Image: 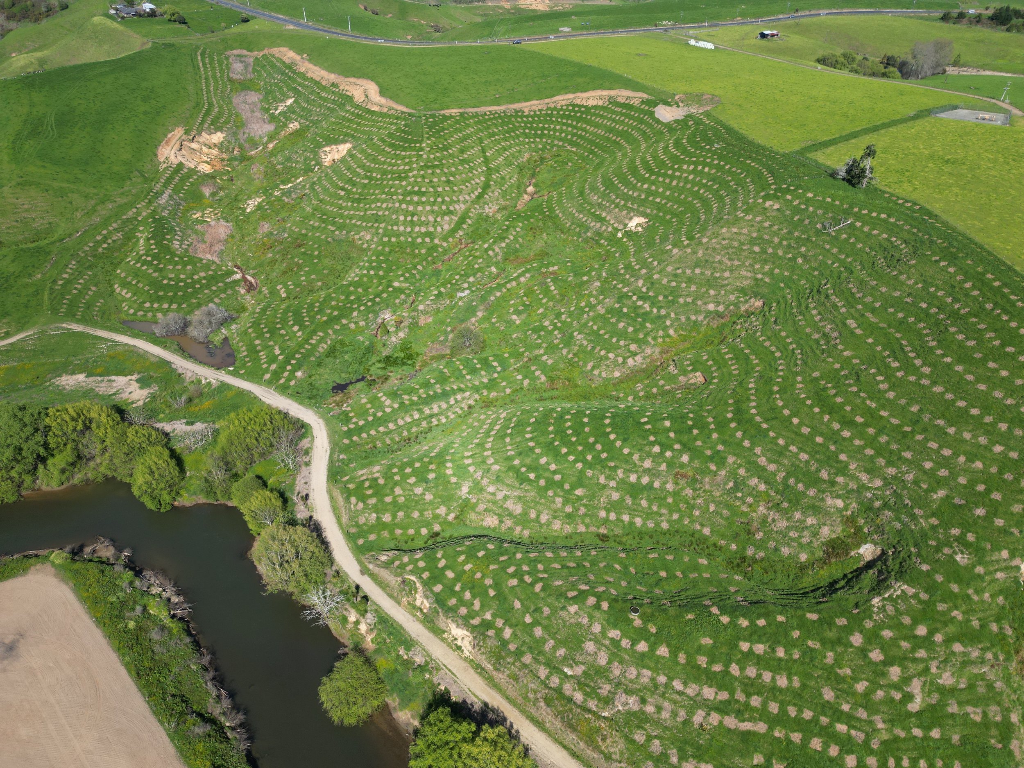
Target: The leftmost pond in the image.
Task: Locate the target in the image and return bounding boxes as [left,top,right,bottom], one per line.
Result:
[123,319,236,369]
